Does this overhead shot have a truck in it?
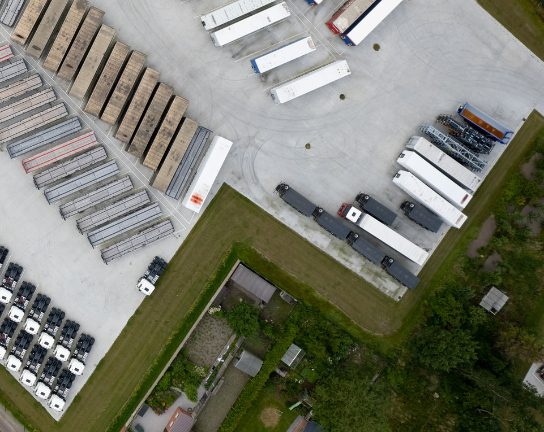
Yes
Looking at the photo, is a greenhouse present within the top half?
No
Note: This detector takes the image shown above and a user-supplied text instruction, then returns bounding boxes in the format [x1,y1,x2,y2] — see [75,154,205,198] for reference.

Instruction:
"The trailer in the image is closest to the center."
[269,176,318,219]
